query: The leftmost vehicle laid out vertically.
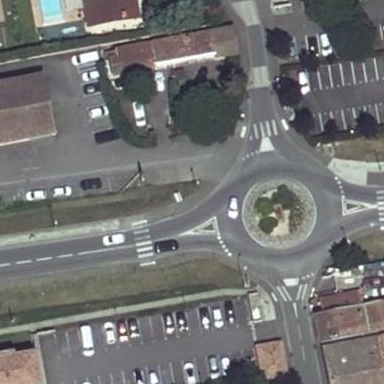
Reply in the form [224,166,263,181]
[80,325,95,356]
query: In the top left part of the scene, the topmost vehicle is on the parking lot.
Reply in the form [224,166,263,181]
[70,51,100,66]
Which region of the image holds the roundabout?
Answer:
right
